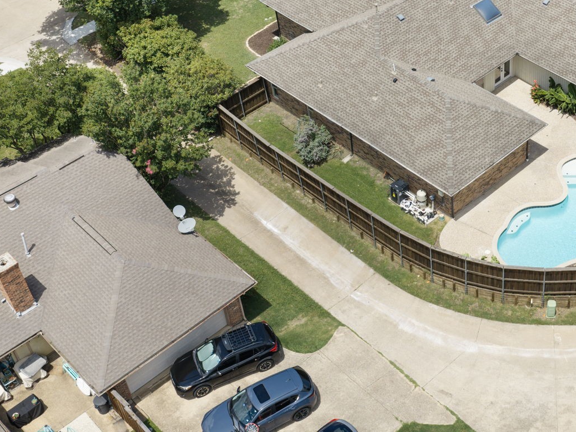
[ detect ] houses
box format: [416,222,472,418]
[0,127,261,432]
[244,0,576,225]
